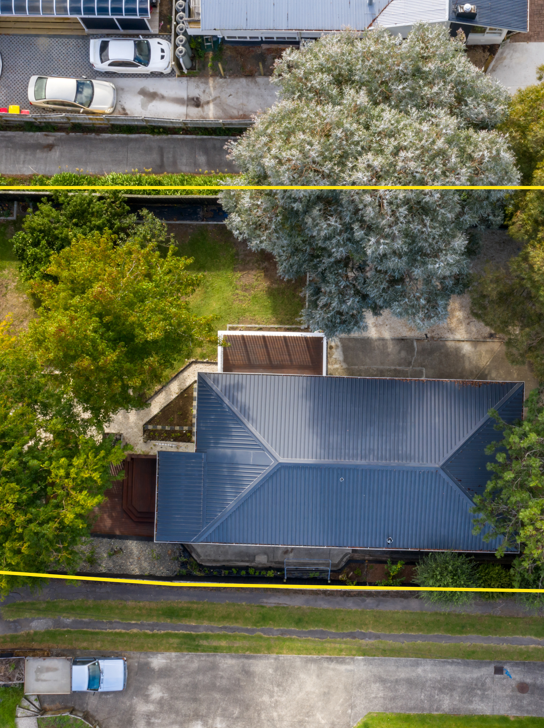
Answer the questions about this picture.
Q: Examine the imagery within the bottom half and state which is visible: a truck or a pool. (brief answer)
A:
truck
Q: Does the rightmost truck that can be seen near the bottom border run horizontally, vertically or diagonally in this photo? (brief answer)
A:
horizontally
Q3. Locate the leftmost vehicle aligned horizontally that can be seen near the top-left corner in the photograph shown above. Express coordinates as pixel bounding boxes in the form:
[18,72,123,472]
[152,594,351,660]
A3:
[26,73,118,116]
